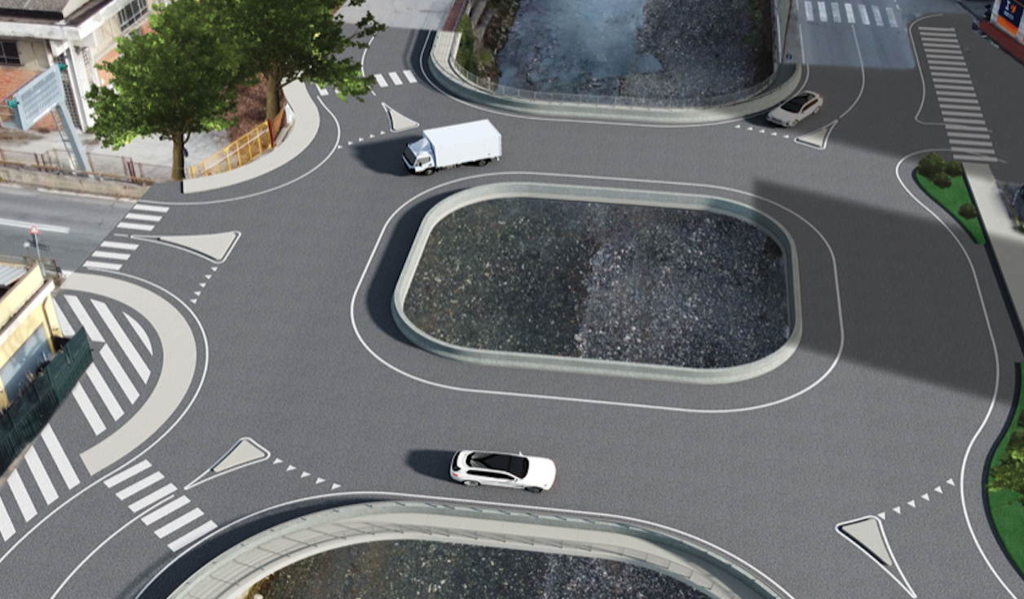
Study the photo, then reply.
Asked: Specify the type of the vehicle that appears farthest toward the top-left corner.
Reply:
truck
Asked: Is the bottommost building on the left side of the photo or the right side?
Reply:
left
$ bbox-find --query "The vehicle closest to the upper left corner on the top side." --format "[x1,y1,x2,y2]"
[403,116,502,176]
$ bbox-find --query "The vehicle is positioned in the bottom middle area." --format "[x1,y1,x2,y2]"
[451,445,557,493]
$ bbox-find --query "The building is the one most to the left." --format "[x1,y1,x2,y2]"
[0,255,67,412]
